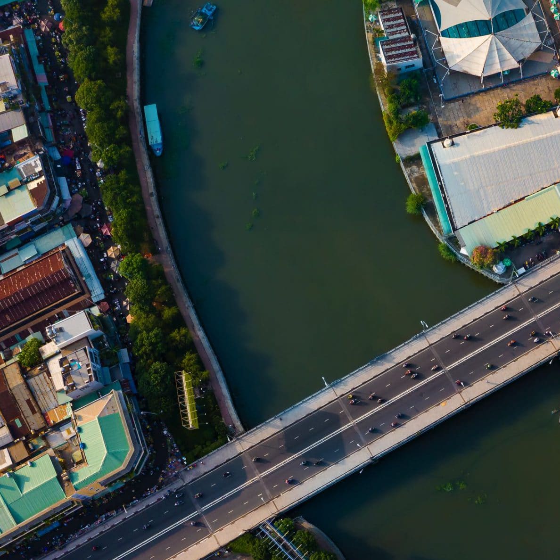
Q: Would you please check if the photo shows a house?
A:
Yes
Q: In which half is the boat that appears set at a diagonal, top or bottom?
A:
top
